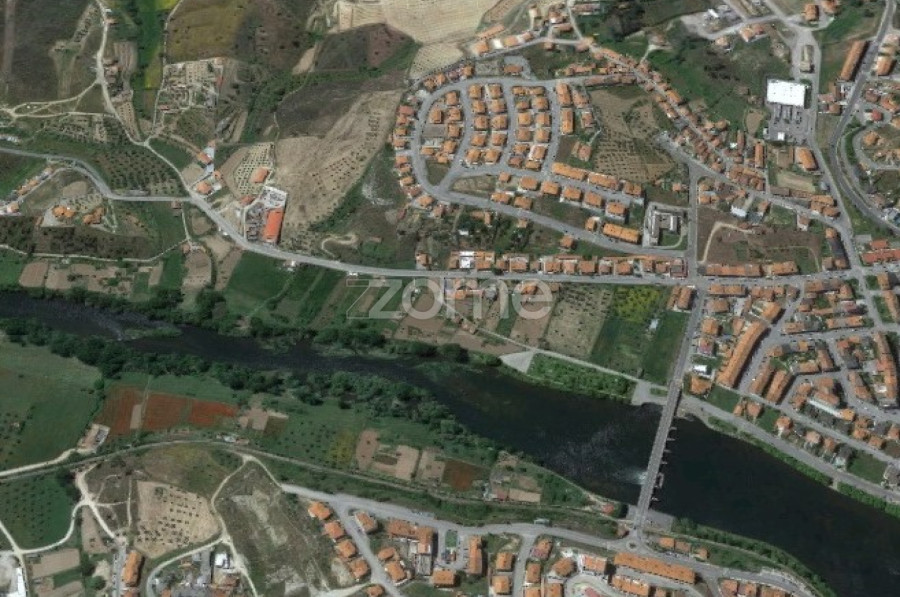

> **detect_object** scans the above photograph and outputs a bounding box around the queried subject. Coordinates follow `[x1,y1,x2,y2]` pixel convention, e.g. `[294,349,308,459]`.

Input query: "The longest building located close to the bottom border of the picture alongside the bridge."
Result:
[613,554,694,585]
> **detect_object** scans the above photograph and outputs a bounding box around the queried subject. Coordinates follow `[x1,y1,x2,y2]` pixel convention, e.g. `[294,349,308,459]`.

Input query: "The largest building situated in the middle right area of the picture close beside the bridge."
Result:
[718,318,768,385]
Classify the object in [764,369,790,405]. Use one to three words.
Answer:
building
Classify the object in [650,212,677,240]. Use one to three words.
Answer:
building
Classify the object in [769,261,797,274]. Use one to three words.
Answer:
house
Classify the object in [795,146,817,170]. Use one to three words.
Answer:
house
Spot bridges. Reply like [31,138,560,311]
[632,368,685,531]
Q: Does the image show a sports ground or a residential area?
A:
residential area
